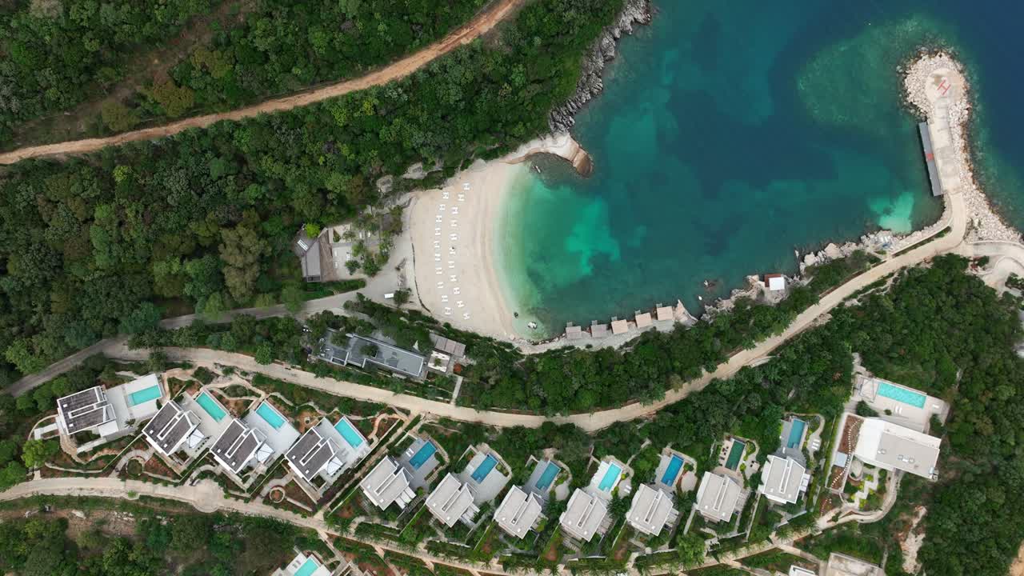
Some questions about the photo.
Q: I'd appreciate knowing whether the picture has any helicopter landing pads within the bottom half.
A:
No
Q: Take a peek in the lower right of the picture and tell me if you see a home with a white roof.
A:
Yes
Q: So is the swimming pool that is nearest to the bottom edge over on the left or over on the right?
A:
left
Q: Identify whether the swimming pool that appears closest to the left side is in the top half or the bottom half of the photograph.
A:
bottom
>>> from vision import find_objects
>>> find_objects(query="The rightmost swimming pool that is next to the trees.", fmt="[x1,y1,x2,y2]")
[877,381,928,410]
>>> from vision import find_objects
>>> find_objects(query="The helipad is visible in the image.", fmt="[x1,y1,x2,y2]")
[924,67,965,106]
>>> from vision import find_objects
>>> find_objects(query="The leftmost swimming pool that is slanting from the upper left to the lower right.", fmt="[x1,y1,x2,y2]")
[193,390,227,423]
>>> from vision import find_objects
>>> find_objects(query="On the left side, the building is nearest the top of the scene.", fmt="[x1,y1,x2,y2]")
[294,225,338,280]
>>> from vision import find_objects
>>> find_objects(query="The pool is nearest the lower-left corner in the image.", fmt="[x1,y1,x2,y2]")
[126,384,162,408]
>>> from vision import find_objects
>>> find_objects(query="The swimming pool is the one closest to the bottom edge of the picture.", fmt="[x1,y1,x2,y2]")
[292,556,320,576]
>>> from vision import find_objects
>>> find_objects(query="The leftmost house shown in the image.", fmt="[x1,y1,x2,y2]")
[56,386,124,435]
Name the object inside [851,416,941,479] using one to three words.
house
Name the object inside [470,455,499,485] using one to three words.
swimming pool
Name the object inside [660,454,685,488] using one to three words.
swimming pool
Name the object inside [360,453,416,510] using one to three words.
house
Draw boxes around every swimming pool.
[193,390,227,423]
[534,461,561,494]
[877,381,928,410]
[597,462,623,494]
[470,455,499,485]
[255,401,285,431]
[408,440,437,472]
[126,384,162,408]
[292,556,320,576]
[786,418,807,449]
[333,418,363,449]
[660,454,685,488]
